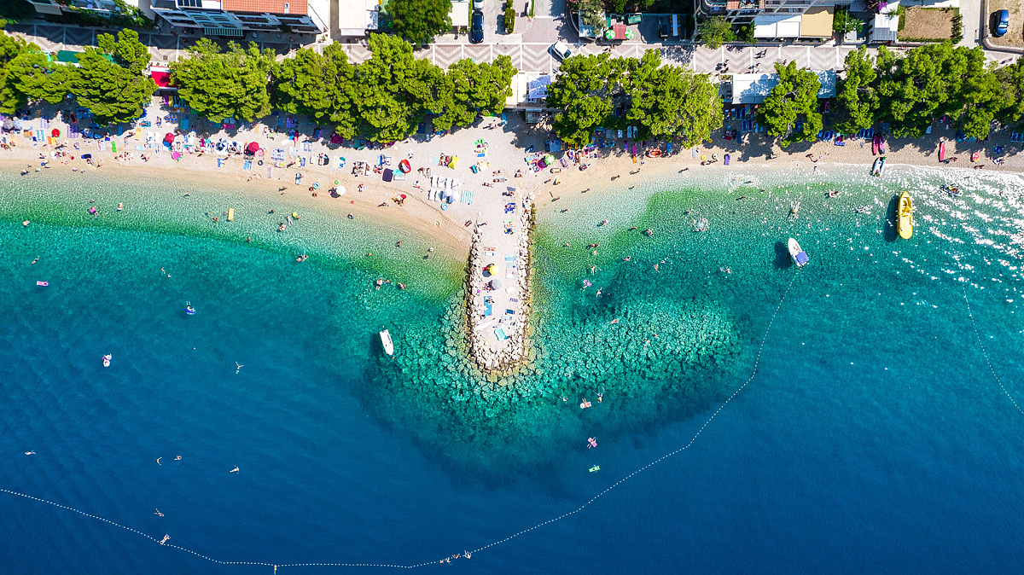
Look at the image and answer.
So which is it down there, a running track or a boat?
boat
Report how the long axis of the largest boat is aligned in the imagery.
vertically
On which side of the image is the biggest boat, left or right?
right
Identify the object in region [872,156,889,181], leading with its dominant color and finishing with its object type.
white boat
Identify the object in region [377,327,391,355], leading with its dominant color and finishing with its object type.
white boat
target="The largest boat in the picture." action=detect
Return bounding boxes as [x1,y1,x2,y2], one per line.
[896,190,916,240]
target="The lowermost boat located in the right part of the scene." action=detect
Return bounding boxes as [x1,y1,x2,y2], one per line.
[791,239,813,270]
